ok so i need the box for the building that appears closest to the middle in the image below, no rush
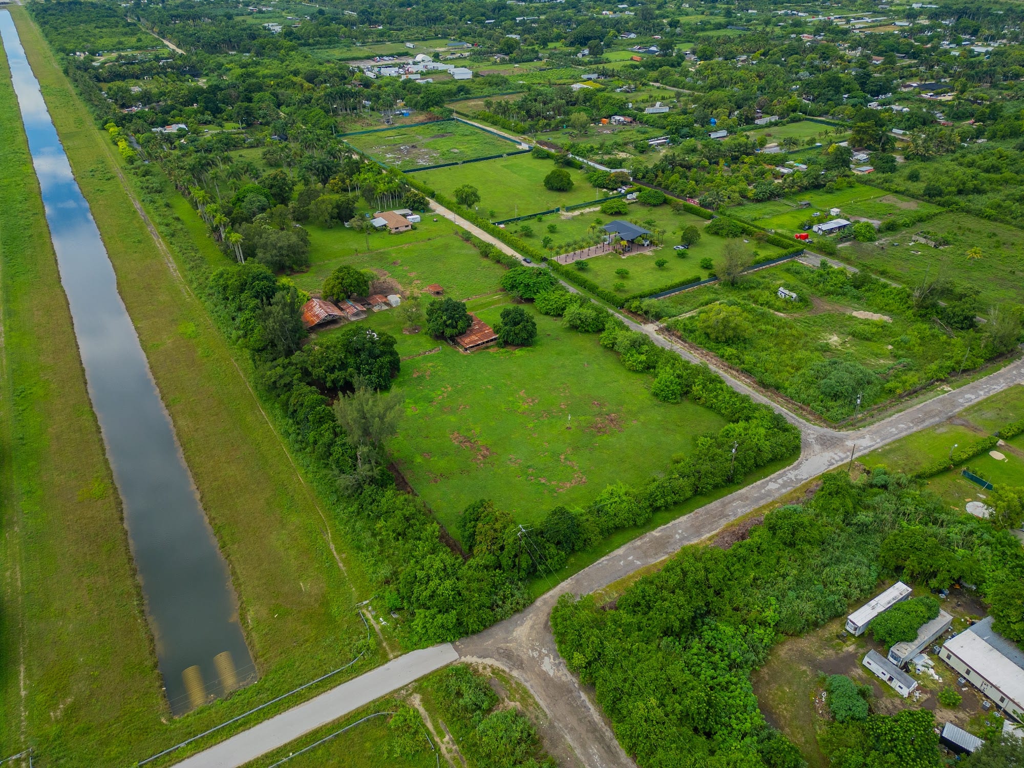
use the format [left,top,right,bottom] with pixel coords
[441,311,500,356]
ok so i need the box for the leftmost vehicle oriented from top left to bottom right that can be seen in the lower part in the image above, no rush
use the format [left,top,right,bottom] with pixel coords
[864,646,919,702]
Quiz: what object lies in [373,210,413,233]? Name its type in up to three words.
house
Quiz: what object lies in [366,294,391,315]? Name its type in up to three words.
shed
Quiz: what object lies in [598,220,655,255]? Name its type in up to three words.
building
